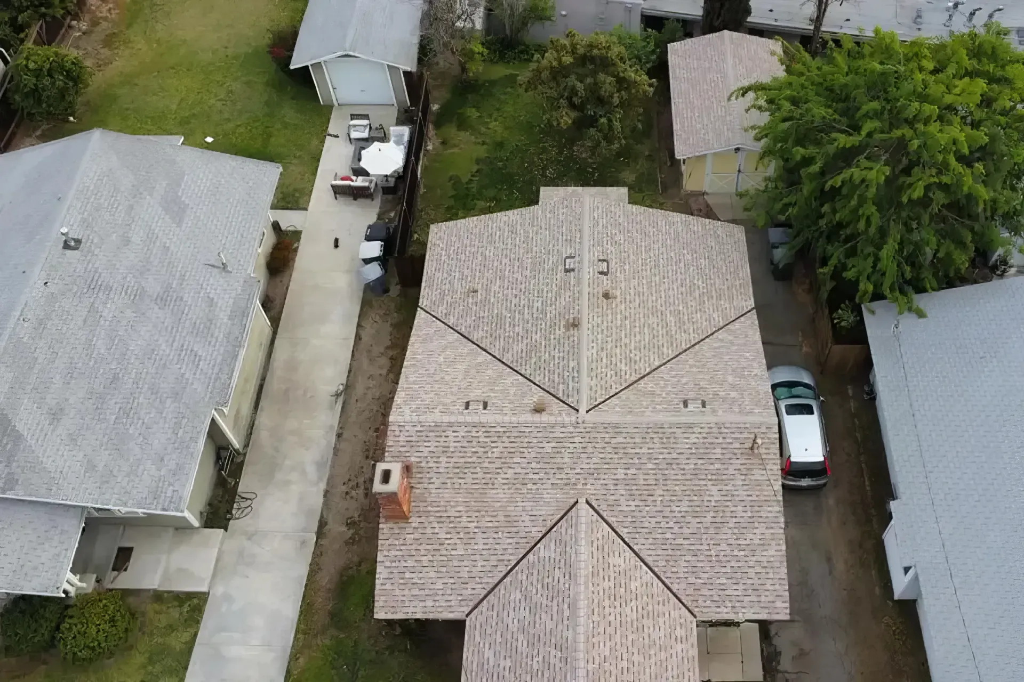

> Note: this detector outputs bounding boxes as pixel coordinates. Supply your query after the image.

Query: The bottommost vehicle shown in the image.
[767,367,835,491]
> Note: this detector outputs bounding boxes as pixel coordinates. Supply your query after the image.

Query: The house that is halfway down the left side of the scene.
[0,126,283,607]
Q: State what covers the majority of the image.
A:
buildings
